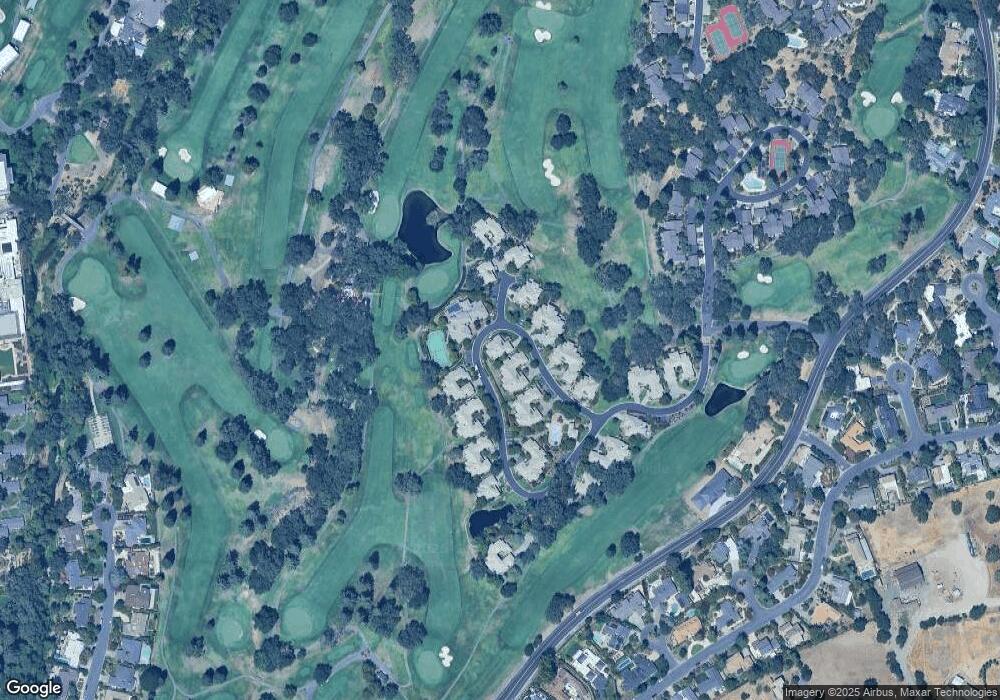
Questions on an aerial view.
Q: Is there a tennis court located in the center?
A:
Yes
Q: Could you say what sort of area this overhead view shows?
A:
golf course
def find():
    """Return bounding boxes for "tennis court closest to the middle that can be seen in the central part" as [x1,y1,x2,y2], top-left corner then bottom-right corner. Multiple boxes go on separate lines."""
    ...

[427,330,452,367]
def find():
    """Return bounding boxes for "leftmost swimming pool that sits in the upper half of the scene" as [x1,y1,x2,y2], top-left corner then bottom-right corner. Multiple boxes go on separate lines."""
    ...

[742,175,764,189]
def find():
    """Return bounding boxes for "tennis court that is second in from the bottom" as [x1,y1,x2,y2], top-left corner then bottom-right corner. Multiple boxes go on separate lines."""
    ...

[769,139,792,172]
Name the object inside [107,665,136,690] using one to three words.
house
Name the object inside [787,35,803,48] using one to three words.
swimming pool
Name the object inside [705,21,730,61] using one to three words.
tennis court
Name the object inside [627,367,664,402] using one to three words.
building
